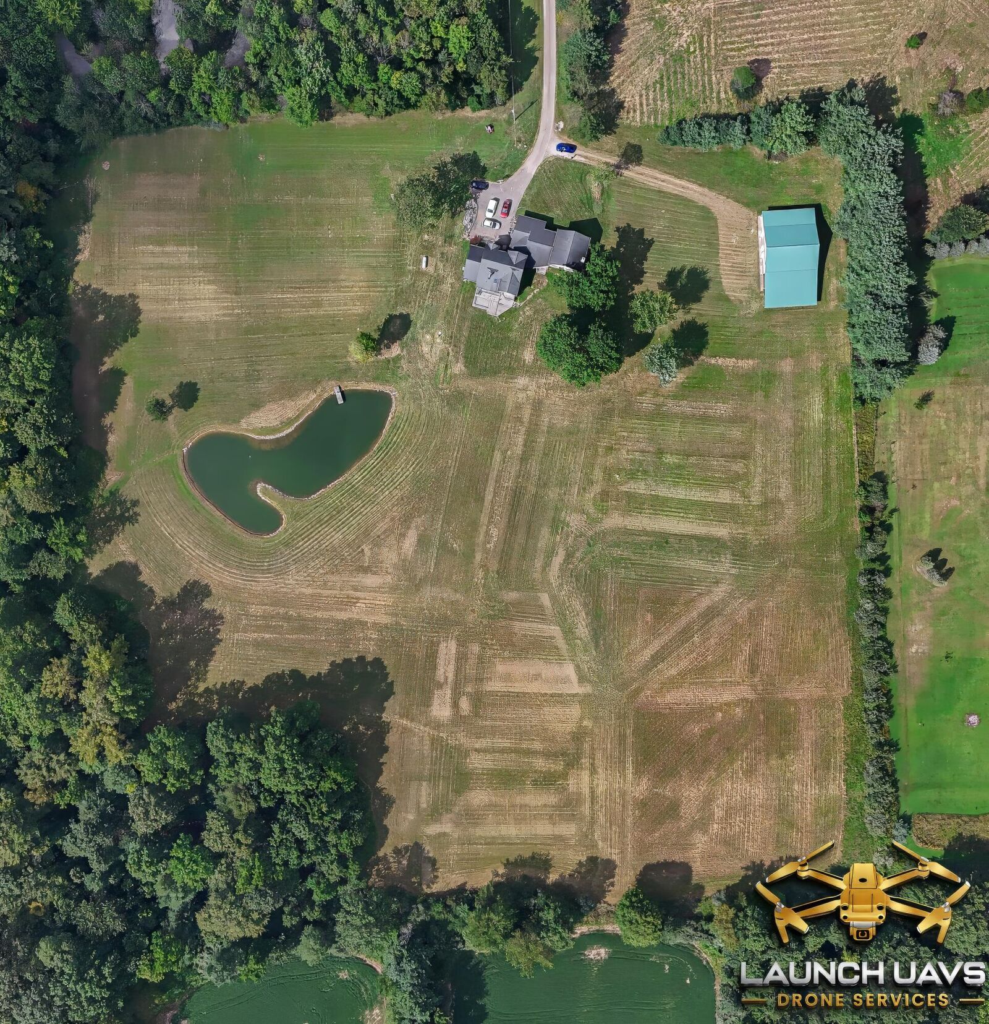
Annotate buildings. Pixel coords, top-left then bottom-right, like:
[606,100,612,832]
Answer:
[755,208,821,312]
[460,215,591,319]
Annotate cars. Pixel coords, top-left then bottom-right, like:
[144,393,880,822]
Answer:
[557,144,576,154]
[486,198,498,219]
[482,219,501,230]
[501,199,511,219]
[471,182,489,191]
